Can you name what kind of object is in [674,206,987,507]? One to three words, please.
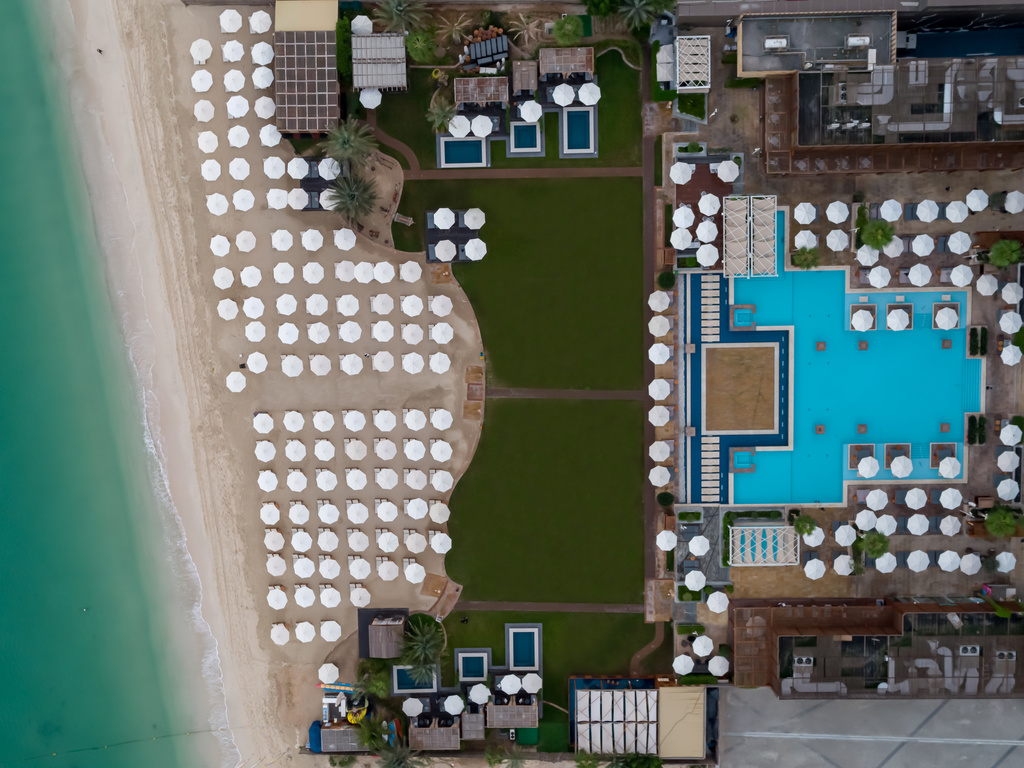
swimming pool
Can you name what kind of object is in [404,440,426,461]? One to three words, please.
umbrella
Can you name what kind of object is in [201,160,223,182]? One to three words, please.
umbrella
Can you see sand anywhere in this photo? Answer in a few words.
Yes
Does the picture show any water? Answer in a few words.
Yes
